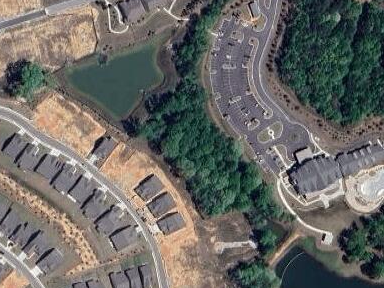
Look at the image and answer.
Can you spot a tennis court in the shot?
No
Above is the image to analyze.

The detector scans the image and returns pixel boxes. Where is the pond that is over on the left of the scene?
[66,38,162,118]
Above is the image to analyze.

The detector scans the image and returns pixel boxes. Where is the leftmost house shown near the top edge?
[121,0,147,24]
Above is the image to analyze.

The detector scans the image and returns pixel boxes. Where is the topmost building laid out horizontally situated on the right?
[289,144,384,196]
